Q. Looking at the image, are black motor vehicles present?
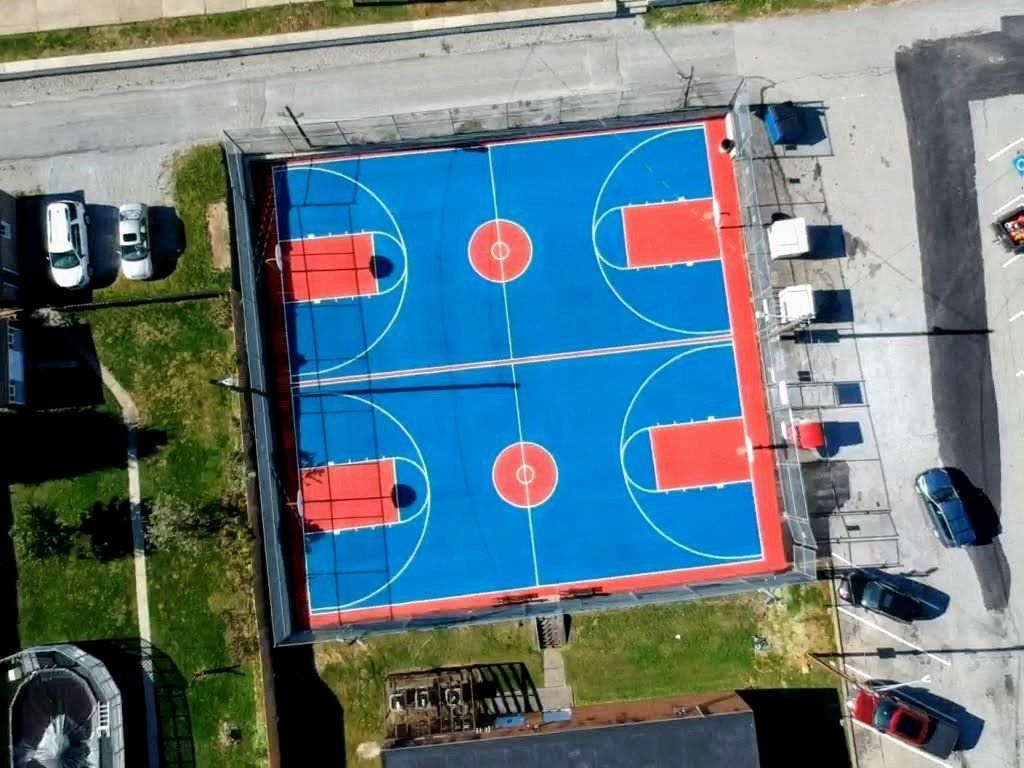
Yes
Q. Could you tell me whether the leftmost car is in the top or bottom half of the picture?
top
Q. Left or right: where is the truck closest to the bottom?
right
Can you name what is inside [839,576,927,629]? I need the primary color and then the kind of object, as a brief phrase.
black car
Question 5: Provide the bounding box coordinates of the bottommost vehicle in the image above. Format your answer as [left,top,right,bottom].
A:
[850,690,958,754]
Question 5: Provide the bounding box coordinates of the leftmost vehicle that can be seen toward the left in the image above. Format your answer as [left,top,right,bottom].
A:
[40,197,90,289]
